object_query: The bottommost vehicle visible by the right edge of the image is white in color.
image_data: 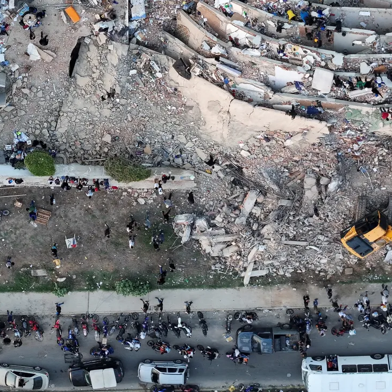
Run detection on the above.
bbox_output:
[301,355,392,392]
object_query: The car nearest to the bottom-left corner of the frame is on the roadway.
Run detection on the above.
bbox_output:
[0,364,49,391]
